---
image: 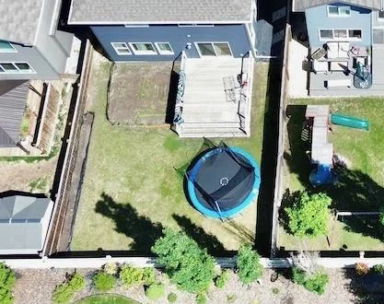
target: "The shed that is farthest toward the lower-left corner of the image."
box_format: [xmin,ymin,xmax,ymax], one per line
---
[0,192,52,253]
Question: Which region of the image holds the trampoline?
center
